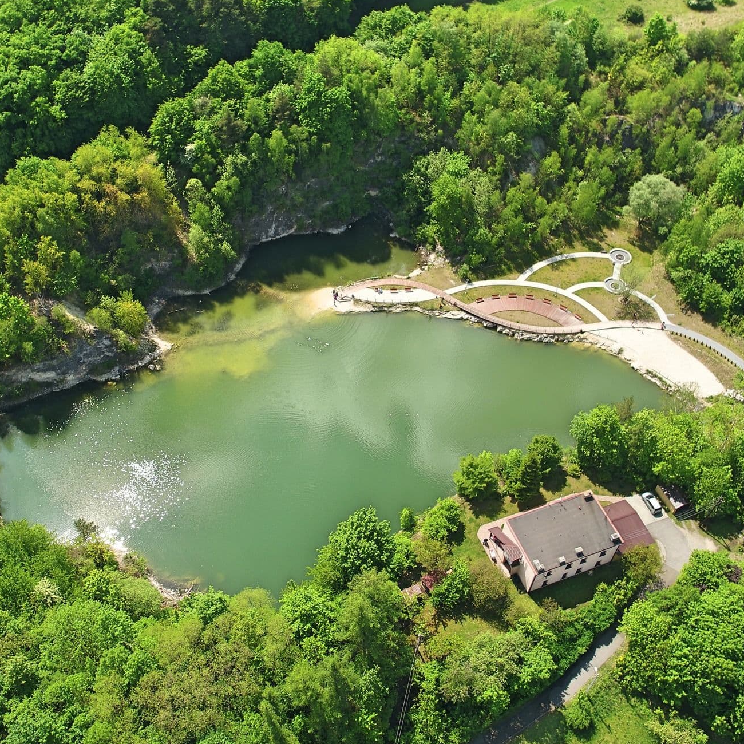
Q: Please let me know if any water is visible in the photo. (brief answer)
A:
Yes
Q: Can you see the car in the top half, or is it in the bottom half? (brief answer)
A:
bottom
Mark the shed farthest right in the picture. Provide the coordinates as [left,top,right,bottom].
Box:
[652,481,689,517]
